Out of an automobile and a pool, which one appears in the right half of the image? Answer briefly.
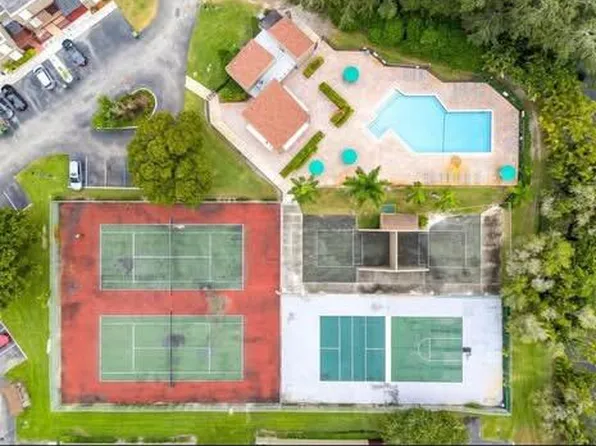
pool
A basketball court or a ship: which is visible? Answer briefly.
basketball court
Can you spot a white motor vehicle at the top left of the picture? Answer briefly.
Yes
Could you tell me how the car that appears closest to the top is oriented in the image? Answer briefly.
diagonally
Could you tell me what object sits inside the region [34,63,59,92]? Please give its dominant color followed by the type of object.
white car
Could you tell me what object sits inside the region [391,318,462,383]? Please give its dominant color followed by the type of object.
green basketball court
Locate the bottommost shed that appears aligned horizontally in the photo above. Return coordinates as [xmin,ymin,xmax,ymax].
[379,214,417,228]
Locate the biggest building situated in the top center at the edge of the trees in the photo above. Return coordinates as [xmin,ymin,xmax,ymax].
[224,17,315,155]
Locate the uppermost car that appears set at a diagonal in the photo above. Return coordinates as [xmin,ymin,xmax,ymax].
[63,38,89,68]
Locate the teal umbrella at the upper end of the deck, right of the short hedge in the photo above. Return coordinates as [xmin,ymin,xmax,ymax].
[341,66,359,84]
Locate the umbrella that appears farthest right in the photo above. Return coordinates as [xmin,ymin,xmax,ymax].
[498,165,515,182]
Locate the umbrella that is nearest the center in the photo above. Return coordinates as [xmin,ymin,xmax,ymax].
[308,160,324,176]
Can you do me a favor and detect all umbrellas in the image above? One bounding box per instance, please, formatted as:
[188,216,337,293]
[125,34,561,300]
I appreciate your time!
[498,165,515,182]
[308,160,324,176]
[340,149,356,166]
[341,66,359,84]
[449,154,460,165]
